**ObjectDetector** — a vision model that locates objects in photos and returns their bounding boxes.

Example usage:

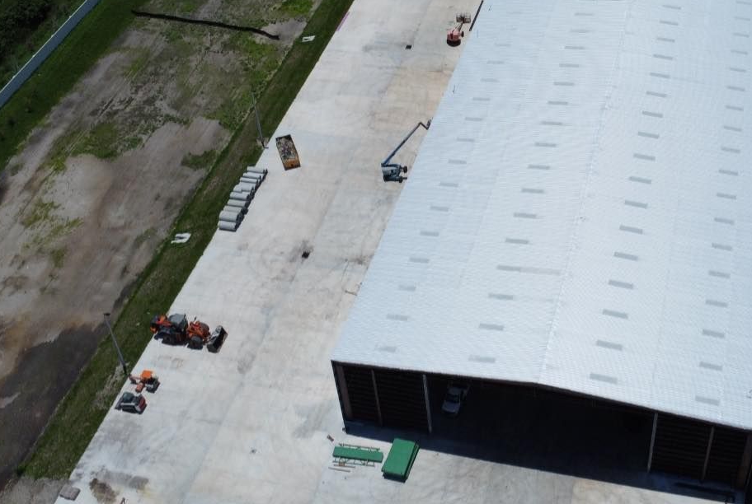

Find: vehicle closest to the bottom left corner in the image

[111,388,147,414]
